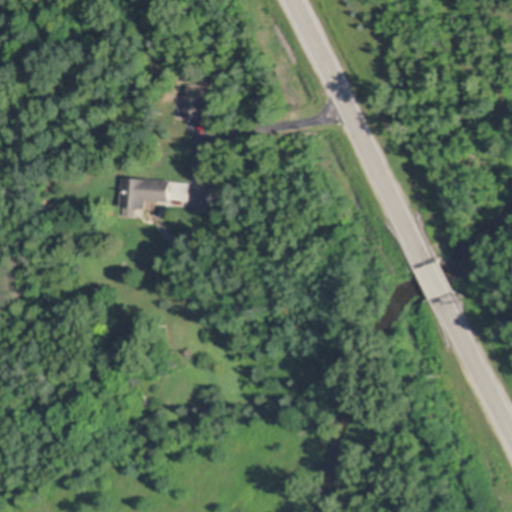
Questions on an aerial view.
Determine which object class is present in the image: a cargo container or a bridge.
bridge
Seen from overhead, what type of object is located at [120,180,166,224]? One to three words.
house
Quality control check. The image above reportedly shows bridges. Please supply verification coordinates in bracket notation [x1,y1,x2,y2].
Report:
[410,248,458,314]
